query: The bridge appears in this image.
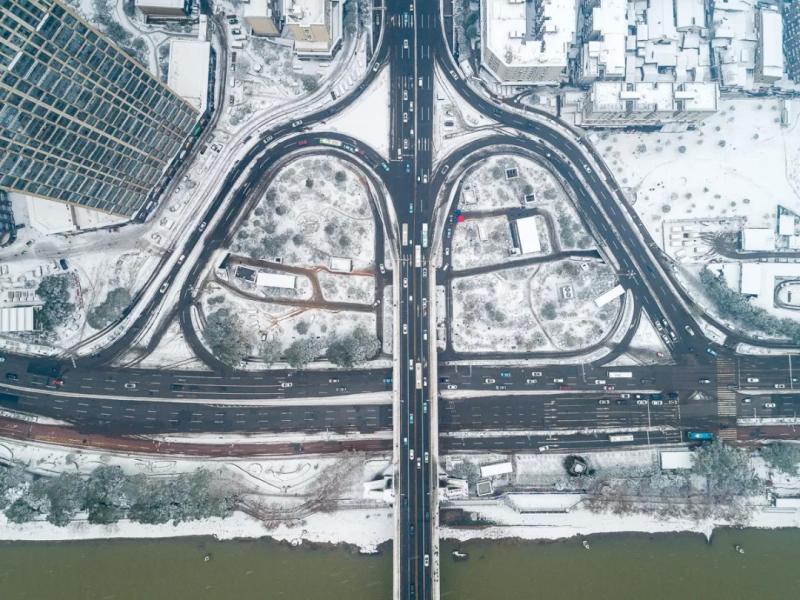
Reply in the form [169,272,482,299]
[393,205,438,600]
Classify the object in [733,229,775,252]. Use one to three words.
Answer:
building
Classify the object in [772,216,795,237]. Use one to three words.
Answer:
building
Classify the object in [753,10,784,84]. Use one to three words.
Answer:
house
